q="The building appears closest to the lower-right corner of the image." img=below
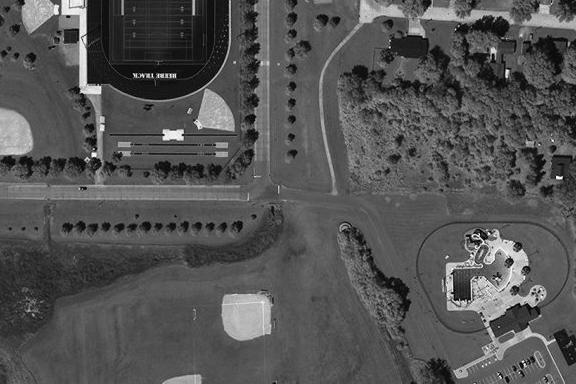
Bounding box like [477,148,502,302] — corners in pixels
[553,327,576,366]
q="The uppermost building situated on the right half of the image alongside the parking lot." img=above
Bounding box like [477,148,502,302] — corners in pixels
[490,302,542,338]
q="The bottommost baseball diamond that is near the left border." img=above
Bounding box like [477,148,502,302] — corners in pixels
[0,107,34,155]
